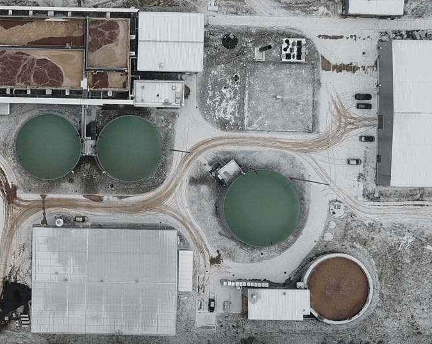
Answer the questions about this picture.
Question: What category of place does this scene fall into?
industrial area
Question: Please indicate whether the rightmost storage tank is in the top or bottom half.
bottom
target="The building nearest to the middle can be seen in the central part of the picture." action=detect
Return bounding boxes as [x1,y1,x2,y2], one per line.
[217,160,243,183]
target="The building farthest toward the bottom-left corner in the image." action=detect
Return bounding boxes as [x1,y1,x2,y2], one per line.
[31,226,177,336]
